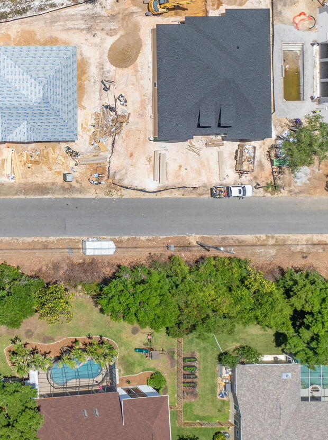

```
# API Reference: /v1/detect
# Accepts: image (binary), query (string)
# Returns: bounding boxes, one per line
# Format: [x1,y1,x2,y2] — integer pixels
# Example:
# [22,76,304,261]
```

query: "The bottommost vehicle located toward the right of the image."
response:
[212,185,255,202]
